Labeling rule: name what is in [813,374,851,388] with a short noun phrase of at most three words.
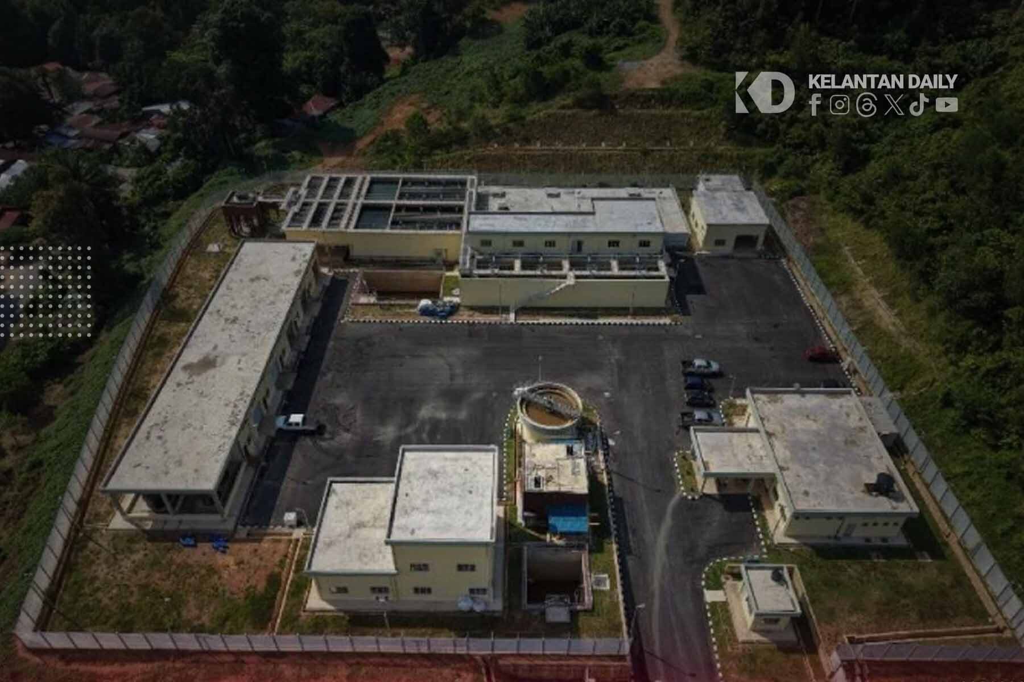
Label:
car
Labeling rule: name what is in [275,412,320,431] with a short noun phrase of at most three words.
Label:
vehicle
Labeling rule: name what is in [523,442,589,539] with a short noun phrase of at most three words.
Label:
building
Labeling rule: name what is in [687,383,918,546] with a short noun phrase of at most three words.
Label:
building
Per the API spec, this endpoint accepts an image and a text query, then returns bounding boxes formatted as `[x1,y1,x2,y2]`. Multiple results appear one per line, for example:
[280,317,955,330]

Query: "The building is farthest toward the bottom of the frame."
[730,566,802,642]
